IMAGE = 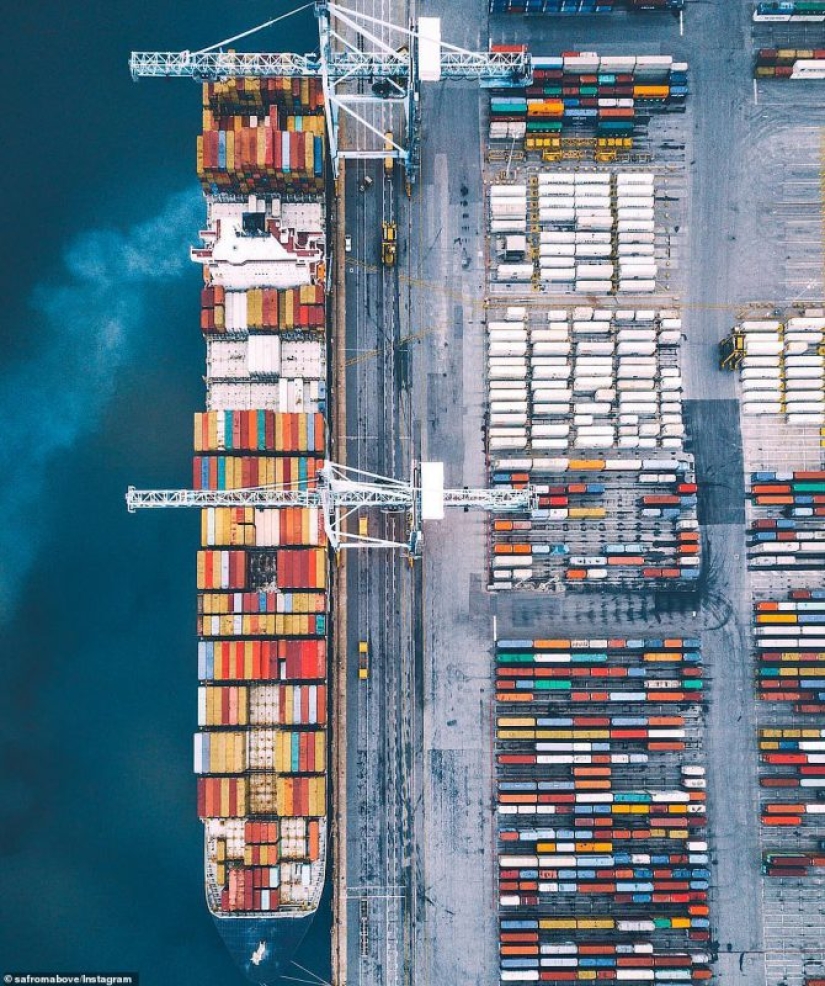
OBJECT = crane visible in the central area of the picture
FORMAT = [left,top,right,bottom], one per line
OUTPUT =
[120,458,535,565]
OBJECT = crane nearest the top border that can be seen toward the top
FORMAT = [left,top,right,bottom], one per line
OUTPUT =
[131,5,529,188]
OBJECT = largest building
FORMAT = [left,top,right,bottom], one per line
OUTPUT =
[500,235,526,255]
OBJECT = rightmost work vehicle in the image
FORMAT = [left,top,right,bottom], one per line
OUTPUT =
[722,329,746,369]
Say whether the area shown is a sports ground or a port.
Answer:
port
